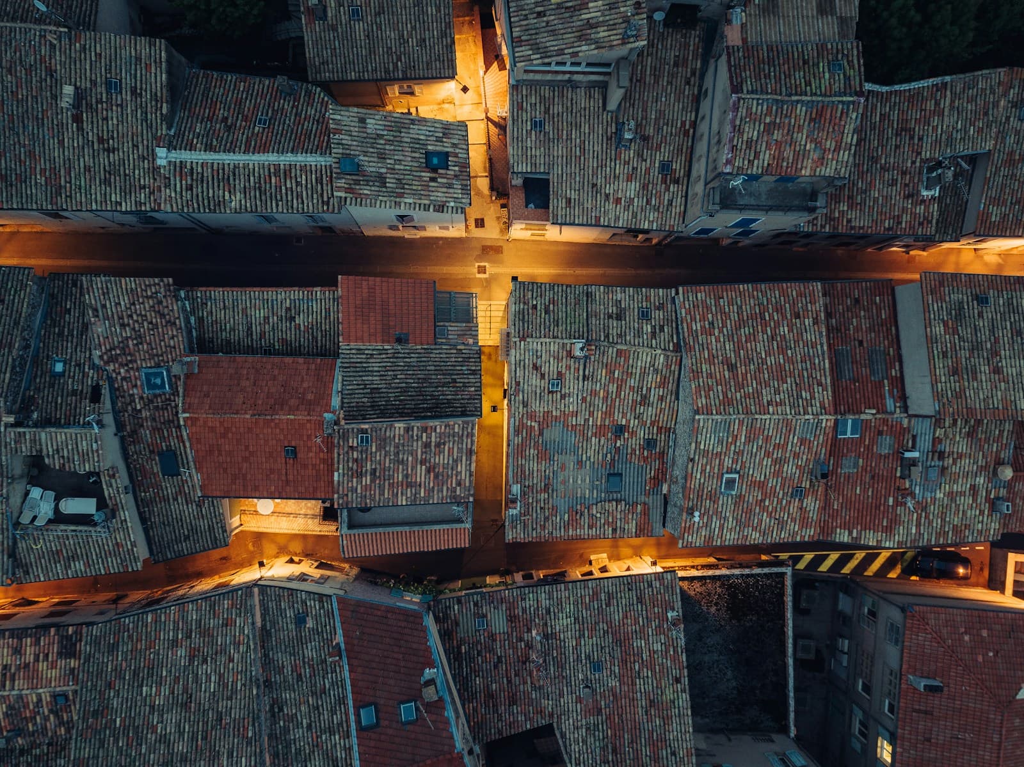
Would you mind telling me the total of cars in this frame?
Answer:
one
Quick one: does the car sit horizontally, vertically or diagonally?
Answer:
horizontally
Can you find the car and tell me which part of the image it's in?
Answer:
bottom right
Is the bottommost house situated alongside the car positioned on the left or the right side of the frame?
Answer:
right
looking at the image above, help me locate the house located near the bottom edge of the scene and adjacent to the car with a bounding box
[841,576,1024,767]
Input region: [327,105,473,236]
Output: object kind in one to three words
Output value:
house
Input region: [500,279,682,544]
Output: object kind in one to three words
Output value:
house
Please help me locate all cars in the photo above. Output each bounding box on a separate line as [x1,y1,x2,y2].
[918,554,980,585]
